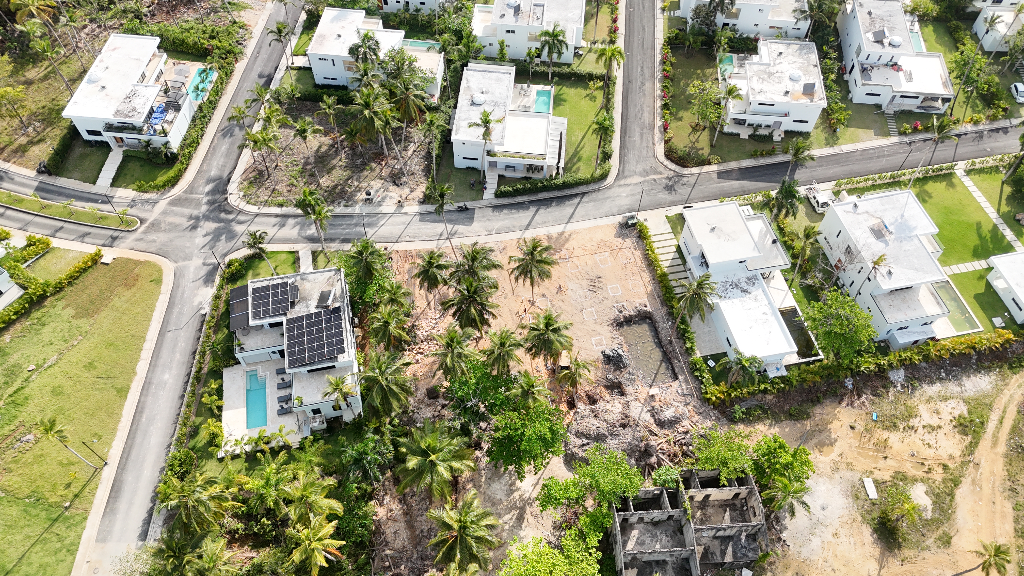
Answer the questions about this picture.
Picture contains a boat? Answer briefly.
No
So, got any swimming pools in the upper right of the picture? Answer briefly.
Yes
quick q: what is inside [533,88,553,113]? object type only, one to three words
swimming pool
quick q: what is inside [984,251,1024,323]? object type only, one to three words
building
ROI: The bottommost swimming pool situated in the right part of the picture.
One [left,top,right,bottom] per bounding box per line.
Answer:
[778,304,822,361]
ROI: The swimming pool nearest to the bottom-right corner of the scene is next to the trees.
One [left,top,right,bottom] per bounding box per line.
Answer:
[936,264,980,334]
